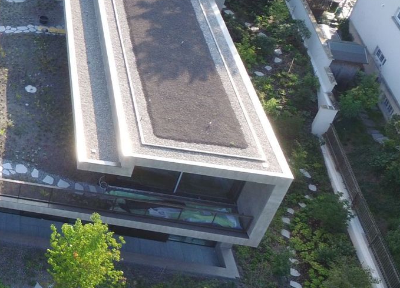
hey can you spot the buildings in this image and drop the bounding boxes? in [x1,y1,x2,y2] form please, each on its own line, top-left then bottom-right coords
[348,0,400,115]
[61,0,293,247]
[334,43,376,92]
